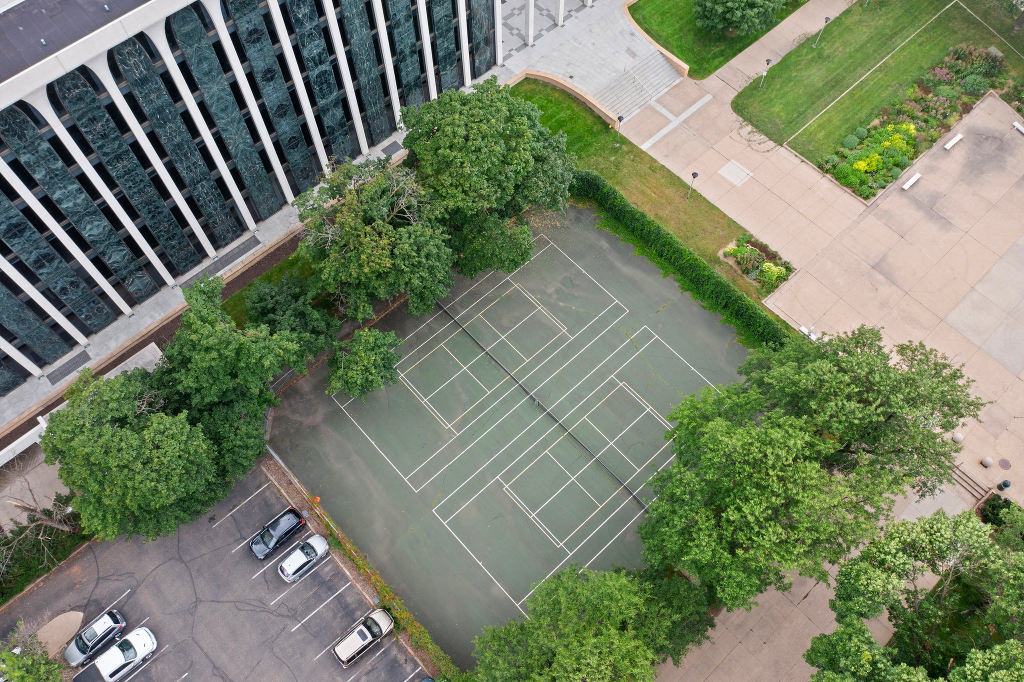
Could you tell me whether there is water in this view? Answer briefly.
No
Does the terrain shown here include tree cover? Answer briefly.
Yes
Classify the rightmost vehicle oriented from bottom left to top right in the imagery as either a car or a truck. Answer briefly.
car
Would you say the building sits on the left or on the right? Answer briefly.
left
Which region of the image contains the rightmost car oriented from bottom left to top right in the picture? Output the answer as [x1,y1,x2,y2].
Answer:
[329,609,394,672]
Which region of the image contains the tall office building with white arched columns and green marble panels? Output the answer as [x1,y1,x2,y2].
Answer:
[0,0,592,397]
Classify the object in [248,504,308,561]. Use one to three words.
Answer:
car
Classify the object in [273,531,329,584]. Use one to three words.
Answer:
car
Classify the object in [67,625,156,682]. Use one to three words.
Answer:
truck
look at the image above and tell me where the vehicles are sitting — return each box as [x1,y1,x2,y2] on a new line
[329,609,394,672]
[59,608,126,671]
[273,531,329,584]
[67,625,156,682]
[248,504,308,561]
